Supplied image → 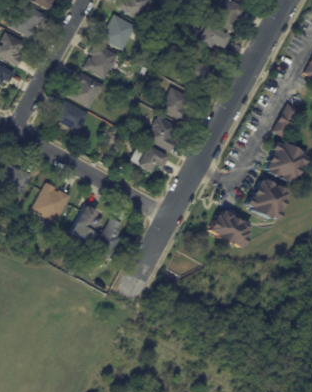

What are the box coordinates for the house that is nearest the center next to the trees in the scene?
[138,148,166,172]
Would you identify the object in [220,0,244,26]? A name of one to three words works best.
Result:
house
